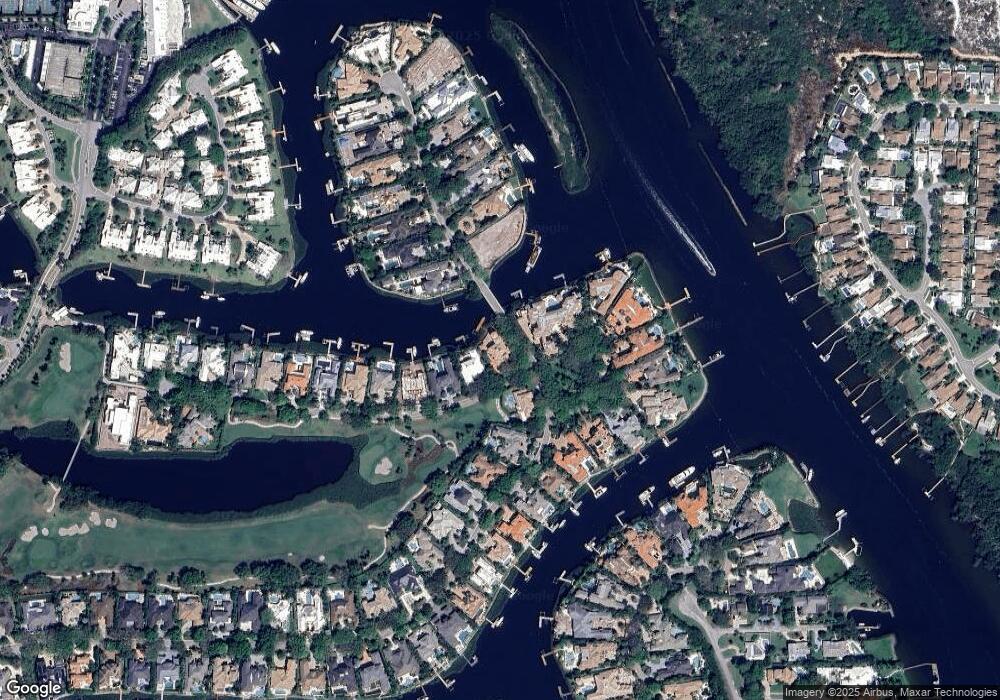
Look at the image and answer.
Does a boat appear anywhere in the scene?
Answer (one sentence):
Yes, you can see a boat in this photo.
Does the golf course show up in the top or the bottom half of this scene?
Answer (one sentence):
The golf course sits in the bottom half of the picture.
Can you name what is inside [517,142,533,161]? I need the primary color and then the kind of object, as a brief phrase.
white boat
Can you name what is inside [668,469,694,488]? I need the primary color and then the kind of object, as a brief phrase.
white boat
